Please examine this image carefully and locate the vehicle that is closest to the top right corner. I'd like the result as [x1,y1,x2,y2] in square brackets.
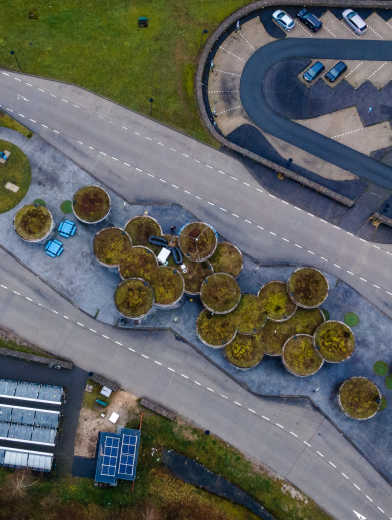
[343,8,370,33]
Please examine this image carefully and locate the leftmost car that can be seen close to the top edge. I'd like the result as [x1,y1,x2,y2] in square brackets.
[272,7,296,30]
